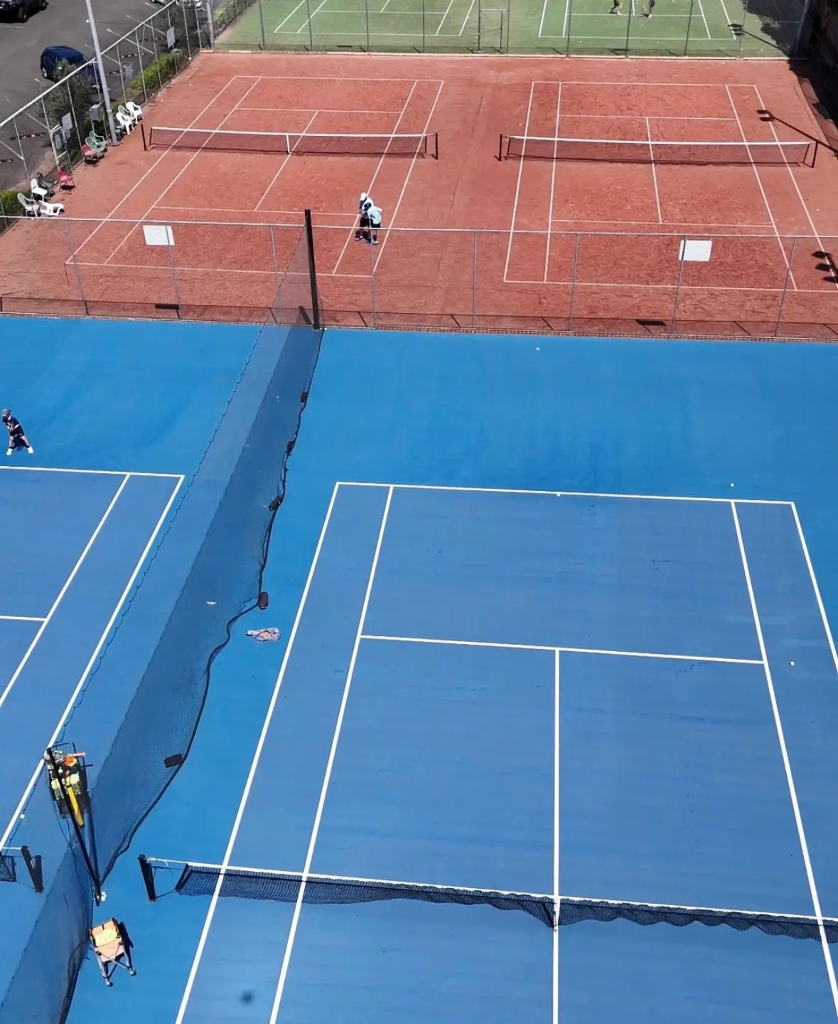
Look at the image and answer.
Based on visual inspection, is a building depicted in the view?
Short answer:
No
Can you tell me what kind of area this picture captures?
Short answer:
sports ground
